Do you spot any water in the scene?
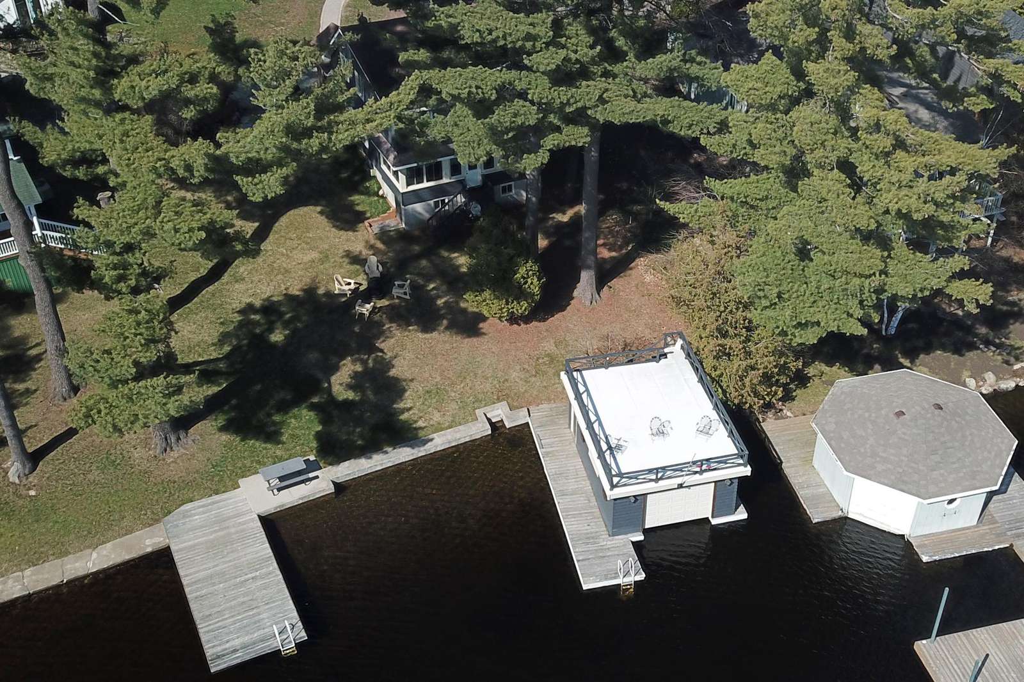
Yes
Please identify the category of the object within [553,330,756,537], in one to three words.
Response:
building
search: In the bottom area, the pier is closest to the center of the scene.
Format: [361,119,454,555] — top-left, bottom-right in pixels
[530,407,648,594]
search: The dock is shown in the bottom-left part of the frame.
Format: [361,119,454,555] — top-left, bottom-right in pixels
[161,487,310,675]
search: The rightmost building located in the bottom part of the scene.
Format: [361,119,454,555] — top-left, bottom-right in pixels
[809,369,1020,543]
